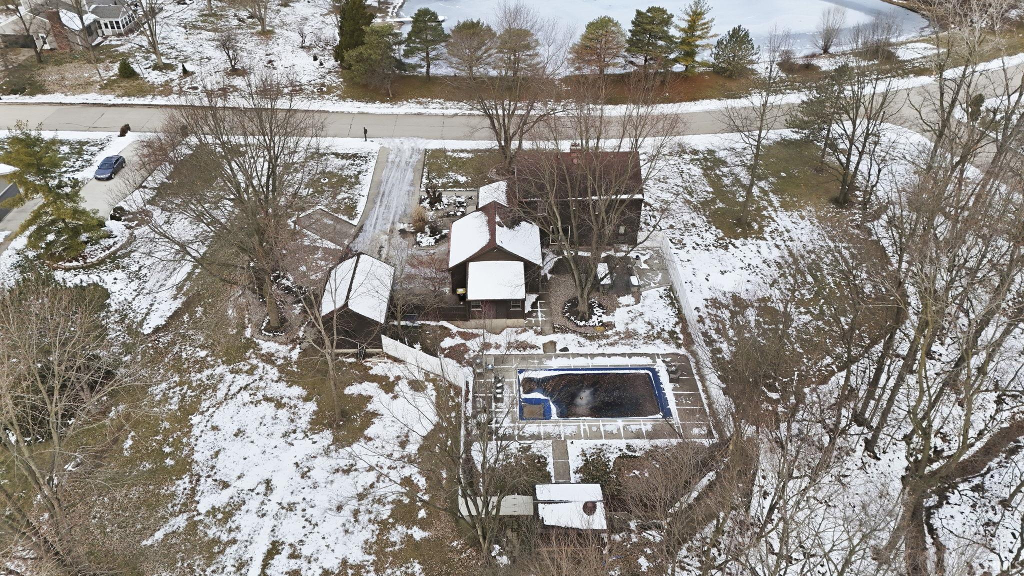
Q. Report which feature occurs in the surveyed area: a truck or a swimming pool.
swimming pool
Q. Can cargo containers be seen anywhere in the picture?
No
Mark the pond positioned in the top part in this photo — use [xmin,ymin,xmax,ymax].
[372,0,929,77]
